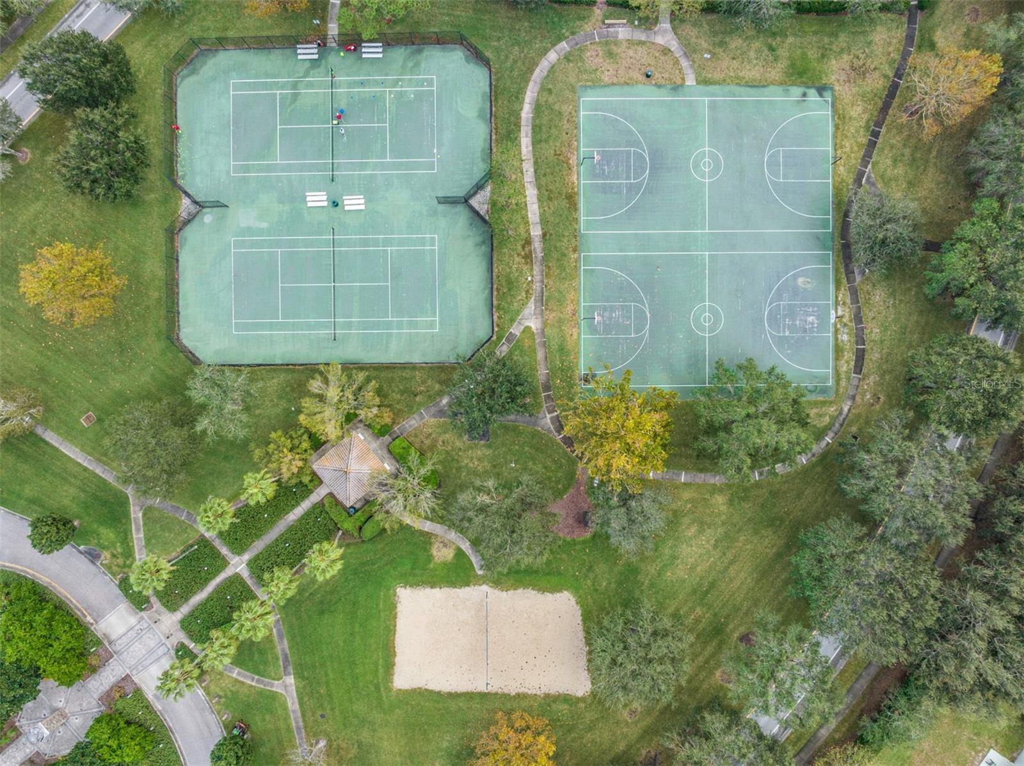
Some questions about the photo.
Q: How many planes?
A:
0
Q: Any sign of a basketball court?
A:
Yes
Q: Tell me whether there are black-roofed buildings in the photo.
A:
No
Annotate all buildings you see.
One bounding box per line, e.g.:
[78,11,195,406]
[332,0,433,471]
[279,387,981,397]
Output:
[313,431,389,508]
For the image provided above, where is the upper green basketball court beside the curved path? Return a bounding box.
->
[579,86,834,242]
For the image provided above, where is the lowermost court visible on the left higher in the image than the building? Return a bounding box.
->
[178,200,493,364]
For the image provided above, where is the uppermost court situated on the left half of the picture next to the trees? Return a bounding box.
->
[177,43,490,205]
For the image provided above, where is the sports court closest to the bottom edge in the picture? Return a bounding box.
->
[394,585,591,696]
